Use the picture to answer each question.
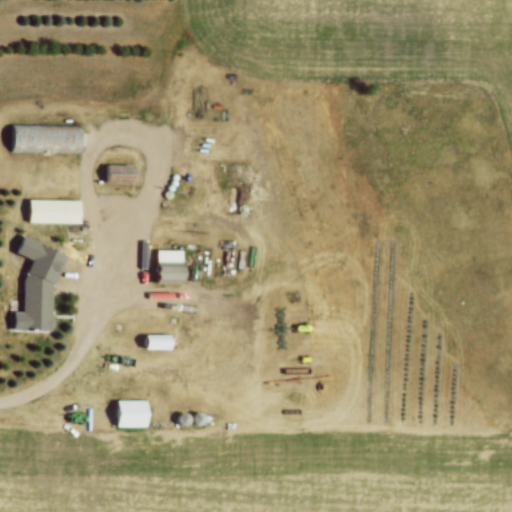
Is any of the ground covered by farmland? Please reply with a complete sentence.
Yes, farmland can be seen from above here.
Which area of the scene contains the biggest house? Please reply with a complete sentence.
The biggest house sits in the left section of the image.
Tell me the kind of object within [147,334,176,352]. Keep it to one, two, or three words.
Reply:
barn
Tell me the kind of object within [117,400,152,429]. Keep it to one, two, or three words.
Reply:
barn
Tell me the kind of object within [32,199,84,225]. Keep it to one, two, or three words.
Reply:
shed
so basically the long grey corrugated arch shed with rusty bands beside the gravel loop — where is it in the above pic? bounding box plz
[14,126,86,154]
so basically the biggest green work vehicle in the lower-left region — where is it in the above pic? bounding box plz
[66,407,94,432]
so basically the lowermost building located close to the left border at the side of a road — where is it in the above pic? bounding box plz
[10,238,70,333]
